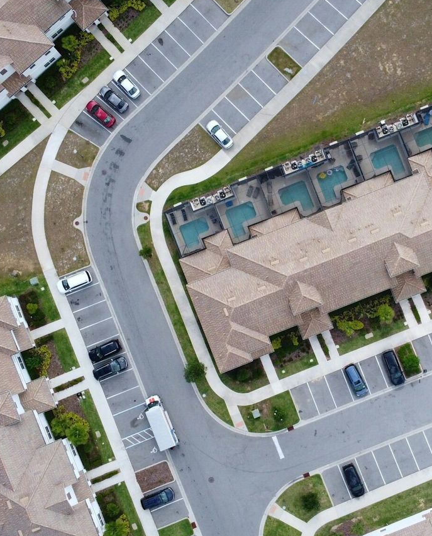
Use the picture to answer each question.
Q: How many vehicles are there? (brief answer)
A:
12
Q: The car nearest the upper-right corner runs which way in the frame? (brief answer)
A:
diagonally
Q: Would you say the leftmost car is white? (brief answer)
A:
Yes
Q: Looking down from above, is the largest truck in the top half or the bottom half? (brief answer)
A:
bottom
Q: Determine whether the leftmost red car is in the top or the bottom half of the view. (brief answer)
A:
top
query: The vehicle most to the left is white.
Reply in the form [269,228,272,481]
[57,270,93,294]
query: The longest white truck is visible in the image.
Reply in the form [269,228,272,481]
[148,393,181,452]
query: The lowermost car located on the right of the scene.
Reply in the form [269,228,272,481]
[342,463,365,498]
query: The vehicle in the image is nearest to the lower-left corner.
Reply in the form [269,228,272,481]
[139,486,176,510]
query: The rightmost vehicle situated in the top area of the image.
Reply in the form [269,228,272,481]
[207,119,234,151]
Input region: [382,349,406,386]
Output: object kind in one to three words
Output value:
car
